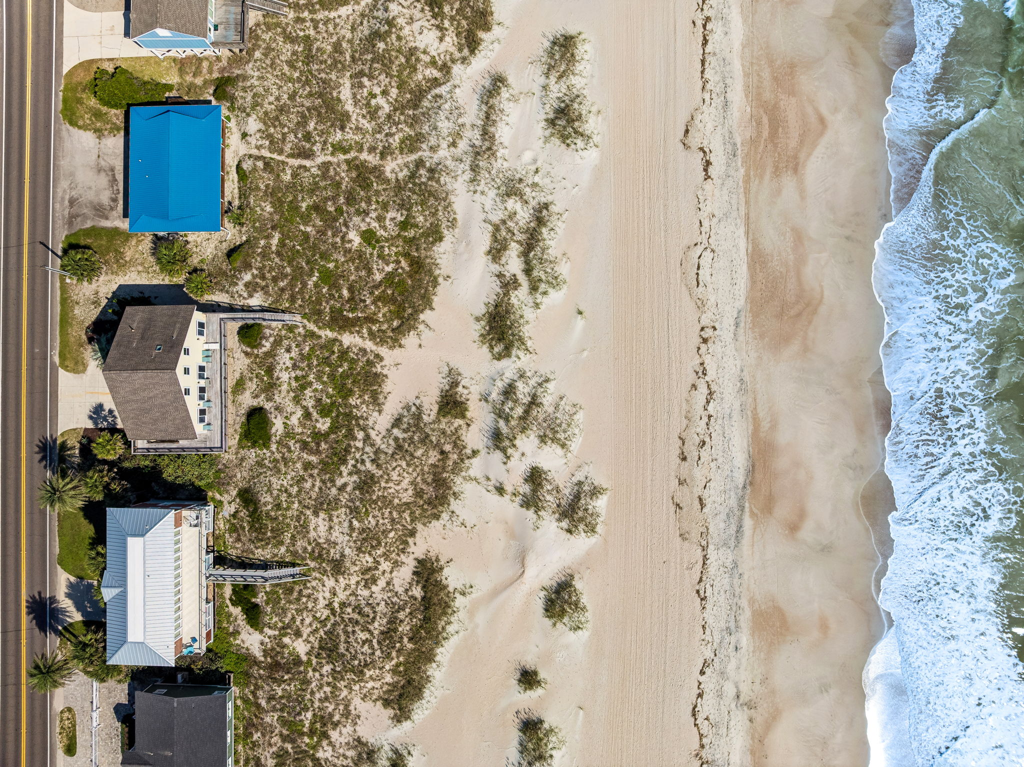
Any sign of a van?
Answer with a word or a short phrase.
No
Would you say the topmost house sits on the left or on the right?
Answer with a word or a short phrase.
left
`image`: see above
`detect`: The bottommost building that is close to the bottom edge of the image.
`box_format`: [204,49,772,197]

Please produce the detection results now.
[119,672,238,767]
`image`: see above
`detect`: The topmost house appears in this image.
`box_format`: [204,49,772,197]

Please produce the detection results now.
[131,0,220,61]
